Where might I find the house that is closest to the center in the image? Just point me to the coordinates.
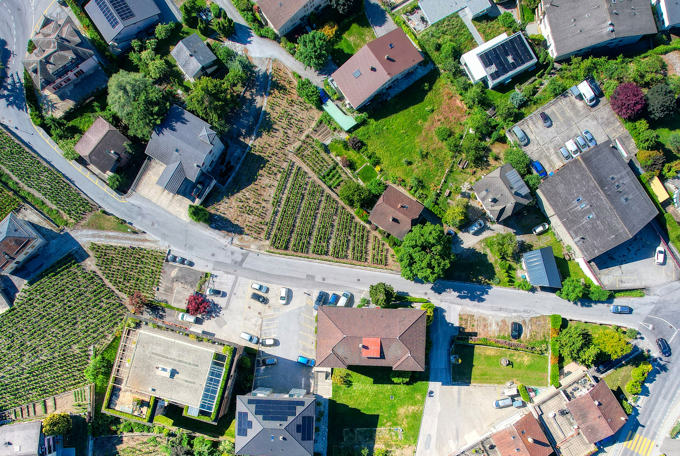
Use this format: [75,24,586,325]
[368,183,424,239]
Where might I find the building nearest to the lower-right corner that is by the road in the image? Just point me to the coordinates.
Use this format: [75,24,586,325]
[565,379,628,444]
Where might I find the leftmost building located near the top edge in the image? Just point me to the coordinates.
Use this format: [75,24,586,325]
[23,16,100,94]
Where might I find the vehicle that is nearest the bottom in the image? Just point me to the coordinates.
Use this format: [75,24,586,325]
[596,433,612,448]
